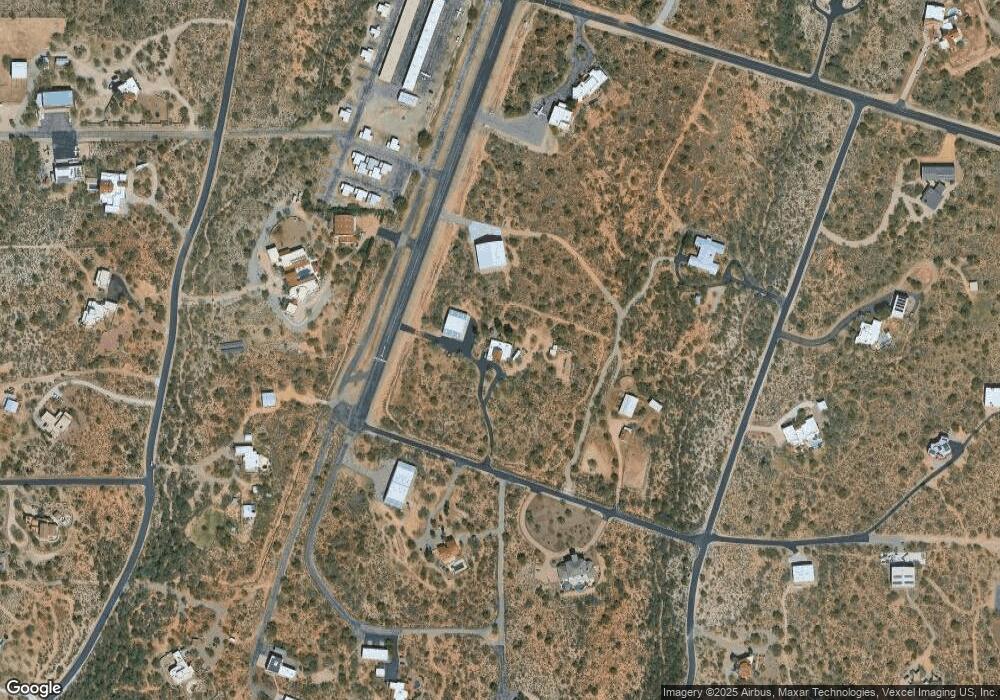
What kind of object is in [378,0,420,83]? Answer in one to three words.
building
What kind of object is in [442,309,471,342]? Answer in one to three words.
hangar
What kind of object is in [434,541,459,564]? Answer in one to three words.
house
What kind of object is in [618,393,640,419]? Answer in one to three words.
shed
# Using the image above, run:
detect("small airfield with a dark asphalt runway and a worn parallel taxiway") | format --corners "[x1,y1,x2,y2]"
[245,0,517,700]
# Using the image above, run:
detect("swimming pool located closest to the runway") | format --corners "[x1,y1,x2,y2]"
[296,265,314,281]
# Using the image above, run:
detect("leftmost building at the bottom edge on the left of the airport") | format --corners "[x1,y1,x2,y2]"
[170,651,194,684]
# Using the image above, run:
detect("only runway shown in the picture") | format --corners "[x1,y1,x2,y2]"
[353,0,517,423]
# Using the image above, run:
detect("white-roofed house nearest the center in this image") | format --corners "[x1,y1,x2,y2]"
[487,340,512,360]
